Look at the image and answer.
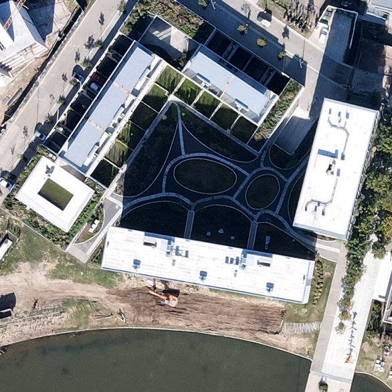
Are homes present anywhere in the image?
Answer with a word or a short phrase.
Yes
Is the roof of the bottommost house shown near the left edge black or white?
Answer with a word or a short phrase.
white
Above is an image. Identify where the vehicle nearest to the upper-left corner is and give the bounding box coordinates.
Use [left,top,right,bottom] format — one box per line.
[69,71,86,85]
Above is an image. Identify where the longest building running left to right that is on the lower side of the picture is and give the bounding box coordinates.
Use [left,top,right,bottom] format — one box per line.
[100,227,321,304]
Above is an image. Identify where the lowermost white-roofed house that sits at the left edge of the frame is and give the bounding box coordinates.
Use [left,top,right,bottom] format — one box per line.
[15,156,94,232]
